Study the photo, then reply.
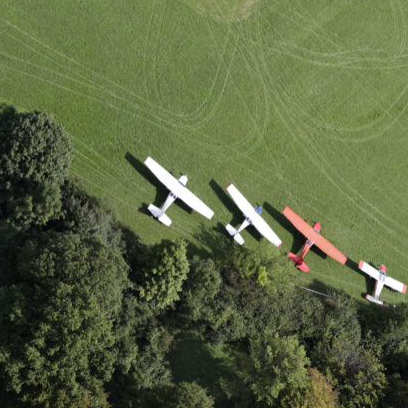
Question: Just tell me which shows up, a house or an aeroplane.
aeroplane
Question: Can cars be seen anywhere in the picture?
No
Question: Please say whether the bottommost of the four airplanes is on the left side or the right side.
right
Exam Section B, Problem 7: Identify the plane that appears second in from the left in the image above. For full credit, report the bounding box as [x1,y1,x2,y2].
[223,184,283,245]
